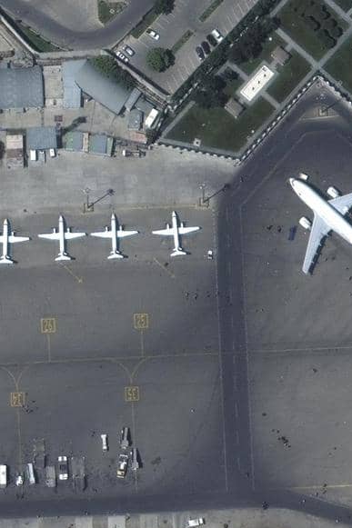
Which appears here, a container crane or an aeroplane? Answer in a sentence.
The one in the frame is an aeroplane.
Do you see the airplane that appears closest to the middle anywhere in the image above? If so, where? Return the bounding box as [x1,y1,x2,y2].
[154,212,199,255]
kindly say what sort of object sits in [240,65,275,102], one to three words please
building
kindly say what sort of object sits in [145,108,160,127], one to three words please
vehicle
